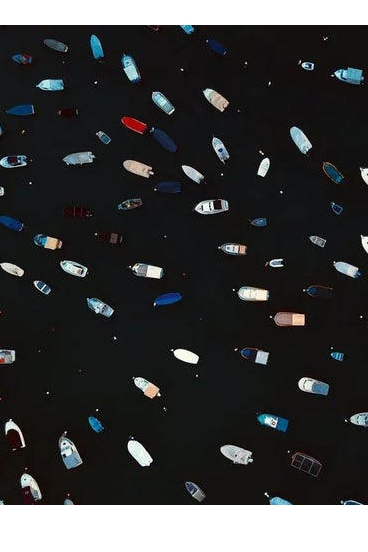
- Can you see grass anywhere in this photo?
No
